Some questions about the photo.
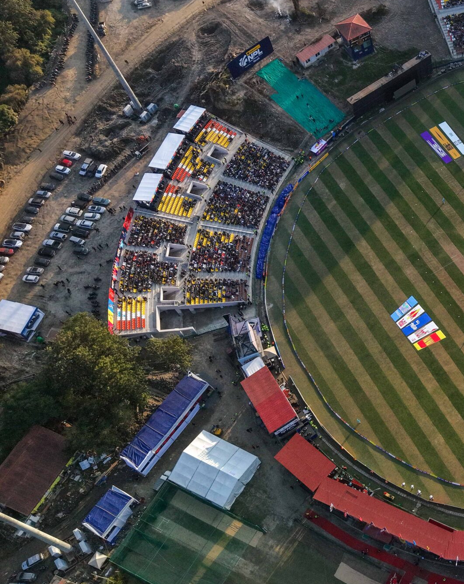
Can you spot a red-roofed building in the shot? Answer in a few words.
Yes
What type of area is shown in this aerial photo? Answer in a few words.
sports ground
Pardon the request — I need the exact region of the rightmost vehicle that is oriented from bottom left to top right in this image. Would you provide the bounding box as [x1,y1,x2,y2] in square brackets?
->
[152,465,172,488]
